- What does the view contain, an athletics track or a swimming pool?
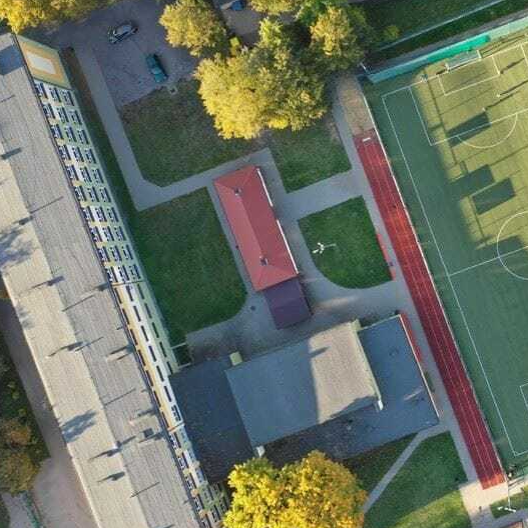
athletics track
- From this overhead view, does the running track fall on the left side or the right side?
right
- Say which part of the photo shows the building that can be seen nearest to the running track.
bottom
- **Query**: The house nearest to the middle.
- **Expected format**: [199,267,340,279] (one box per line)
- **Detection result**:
[213,165,314,329]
